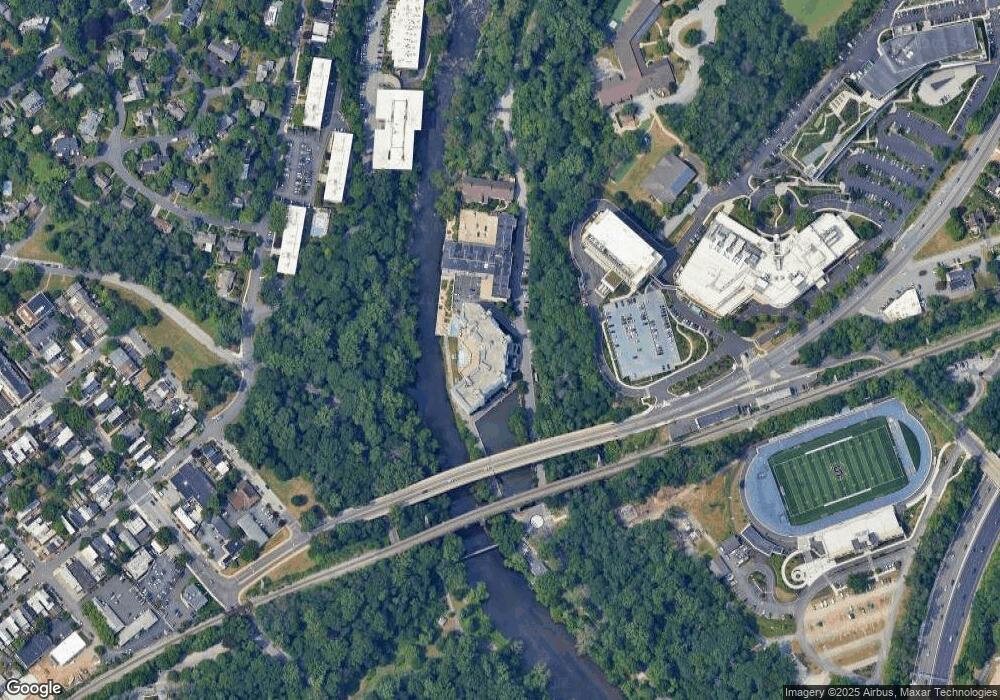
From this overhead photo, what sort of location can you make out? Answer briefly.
residential area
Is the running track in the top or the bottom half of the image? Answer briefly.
bottom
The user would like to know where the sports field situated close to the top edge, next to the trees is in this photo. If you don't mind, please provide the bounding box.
[777,0,859,39]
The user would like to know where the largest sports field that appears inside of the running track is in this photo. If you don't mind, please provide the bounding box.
[770,418,908,522]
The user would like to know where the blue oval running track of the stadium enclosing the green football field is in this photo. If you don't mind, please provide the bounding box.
[744,396,934,537]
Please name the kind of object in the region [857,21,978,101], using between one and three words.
building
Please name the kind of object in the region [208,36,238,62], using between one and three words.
house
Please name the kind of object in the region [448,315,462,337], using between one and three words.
swimming pool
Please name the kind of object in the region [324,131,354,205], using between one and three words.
building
